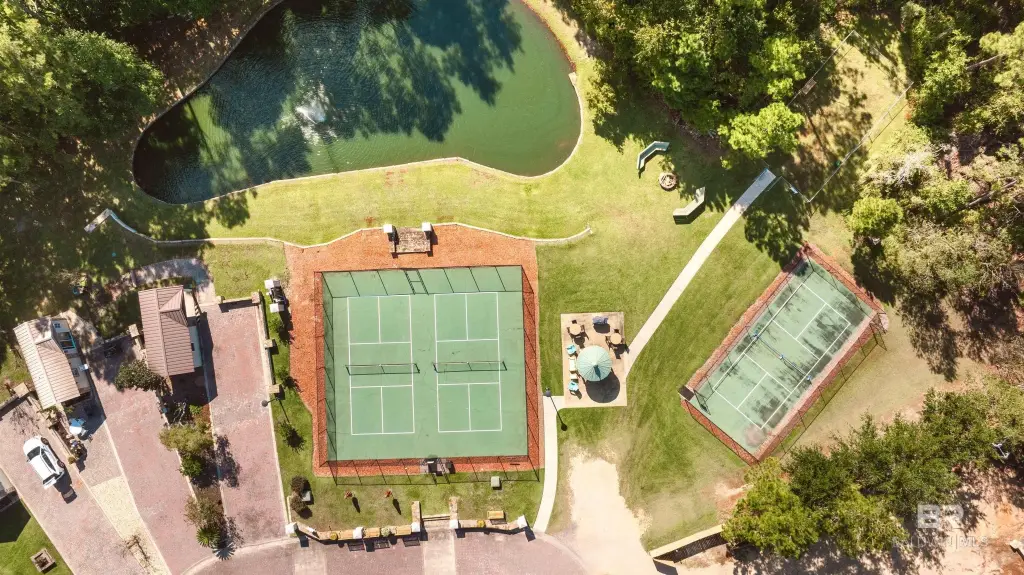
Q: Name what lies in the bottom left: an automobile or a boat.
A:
automobile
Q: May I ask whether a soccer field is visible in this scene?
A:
No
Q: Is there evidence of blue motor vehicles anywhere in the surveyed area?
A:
No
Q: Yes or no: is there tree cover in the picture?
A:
Yes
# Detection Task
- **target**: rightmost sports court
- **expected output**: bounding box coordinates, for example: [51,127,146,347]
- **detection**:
[689,256,873,458]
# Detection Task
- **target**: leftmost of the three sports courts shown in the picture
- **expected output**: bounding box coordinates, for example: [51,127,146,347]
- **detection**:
[321,269,427,462]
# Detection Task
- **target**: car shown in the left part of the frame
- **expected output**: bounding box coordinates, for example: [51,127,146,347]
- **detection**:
[25,438,64,493]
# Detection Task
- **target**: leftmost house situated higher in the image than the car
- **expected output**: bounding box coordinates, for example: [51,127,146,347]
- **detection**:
[12,314,95,412]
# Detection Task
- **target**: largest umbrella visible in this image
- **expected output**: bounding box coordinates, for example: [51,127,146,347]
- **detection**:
[575,344,613,381]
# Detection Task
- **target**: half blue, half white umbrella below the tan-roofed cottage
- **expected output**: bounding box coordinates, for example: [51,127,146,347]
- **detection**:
[68,418,91,435]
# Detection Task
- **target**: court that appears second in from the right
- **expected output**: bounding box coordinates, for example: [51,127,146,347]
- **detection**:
[421,266,527,459]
